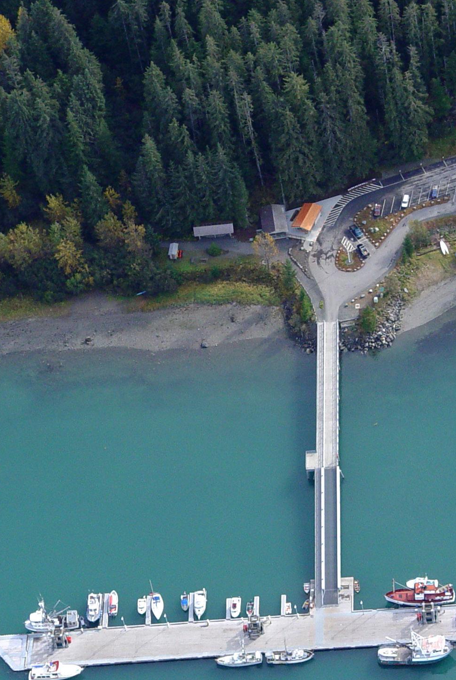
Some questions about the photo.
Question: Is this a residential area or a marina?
marina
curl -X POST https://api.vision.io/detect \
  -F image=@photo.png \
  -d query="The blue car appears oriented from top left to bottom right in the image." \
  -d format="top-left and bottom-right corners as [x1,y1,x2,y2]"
[348,224,365,240]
